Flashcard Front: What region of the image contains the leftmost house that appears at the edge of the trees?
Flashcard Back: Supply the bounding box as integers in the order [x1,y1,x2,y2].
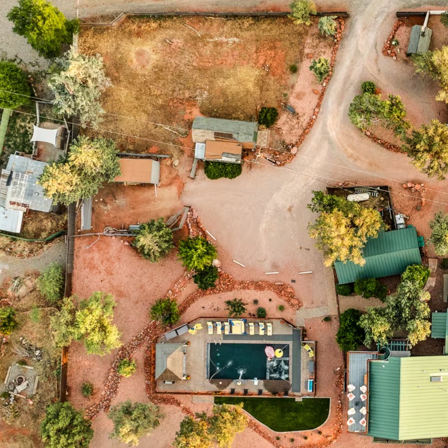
[0,154,56,232]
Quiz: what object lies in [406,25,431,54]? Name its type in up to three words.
shed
